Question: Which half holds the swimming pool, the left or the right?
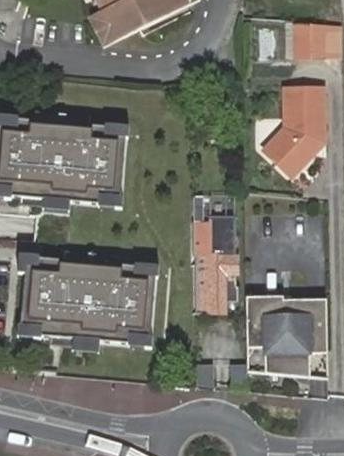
right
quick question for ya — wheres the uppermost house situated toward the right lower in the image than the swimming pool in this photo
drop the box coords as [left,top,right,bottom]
[262,83,326,180]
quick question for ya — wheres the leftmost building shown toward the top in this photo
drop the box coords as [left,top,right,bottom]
[0,112,132,215]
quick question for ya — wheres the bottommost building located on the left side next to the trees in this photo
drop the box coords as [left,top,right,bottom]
[18,251,161,352]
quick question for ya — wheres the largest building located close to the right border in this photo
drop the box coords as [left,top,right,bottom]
[248,296,328,398]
